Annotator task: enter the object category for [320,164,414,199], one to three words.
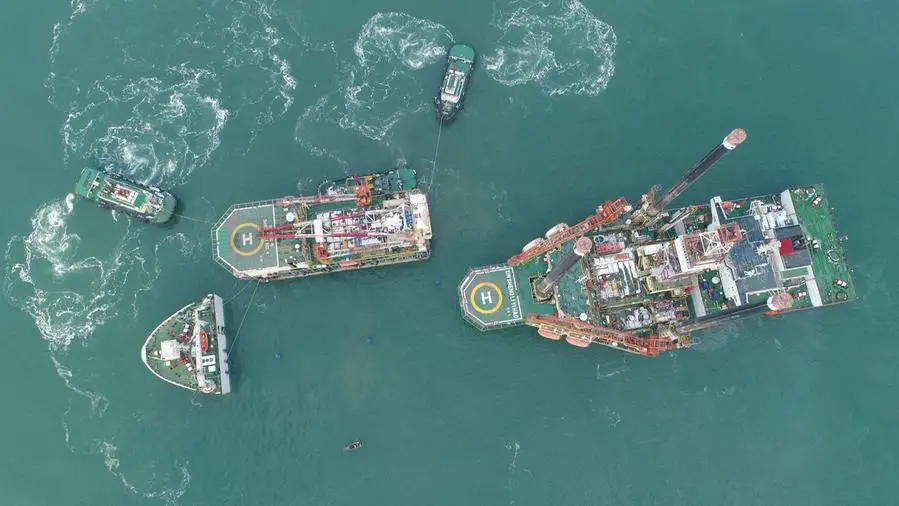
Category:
boat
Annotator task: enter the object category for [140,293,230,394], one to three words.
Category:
ship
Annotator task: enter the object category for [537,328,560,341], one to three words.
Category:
boat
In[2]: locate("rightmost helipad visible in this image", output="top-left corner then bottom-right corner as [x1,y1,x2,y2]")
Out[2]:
[457,264,527,331]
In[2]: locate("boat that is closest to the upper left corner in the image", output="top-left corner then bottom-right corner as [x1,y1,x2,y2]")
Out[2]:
[75,164,177,220]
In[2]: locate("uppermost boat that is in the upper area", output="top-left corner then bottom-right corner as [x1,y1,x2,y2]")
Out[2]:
[435,42,475,125]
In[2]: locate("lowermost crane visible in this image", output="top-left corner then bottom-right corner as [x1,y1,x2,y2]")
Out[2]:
[524,312,680,361]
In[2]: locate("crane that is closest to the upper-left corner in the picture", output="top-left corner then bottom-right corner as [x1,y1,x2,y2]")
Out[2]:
[278,185,376,209]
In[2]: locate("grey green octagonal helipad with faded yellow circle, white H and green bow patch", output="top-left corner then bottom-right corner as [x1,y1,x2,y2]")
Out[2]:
[211,199,279,278]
